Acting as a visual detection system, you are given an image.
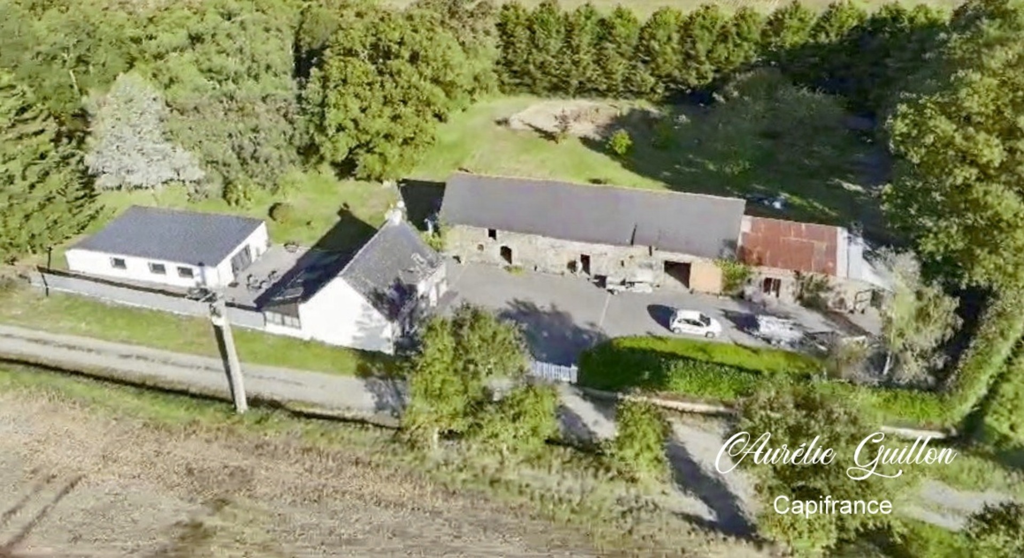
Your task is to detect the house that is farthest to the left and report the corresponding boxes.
[57,203,265,288]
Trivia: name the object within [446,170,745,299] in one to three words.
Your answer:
barn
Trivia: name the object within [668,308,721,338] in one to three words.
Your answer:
car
